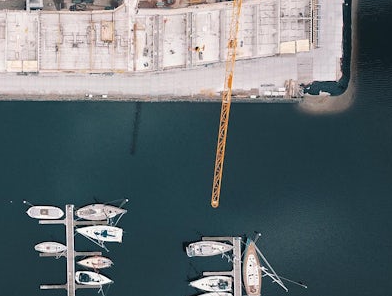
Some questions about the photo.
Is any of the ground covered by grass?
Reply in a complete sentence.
No, there is no grass in the image.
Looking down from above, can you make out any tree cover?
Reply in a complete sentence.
No, the picture contains no tree cover.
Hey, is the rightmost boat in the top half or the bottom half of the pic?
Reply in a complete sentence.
The rightmost boat is in the bottom half of the image.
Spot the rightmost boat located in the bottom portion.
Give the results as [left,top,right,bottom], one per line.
[241,237,284,296]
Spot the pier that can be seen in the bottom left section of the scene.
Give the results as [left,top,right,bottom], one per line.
[38,204,108,296]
